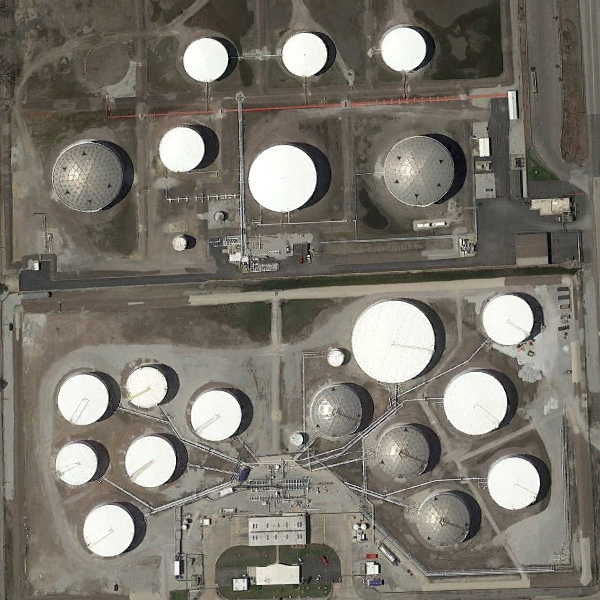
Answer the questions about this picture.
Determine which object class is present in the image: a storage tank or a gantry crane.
storage tank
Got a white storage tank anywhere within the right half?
Yes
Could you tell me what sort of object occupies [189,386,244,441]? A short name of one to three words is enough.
storage tank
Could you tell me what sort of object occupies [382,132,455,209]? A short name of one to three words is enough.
storage tank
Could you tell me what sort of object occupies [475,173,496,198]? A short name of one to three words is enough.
building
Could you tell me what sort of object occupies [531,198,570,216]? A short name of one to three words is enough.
building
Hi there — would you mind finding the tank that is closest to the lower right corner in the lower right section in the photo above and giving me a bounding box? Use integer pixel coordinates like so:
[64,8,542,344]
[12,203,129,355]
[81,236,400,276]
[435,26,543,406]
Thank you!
[486,454,541,512]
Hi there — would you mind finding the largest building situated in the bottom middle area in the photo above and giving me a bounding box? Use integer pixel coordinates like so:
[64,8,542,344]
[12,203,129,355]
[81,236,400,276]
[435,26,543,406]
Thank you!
[249,516,306,546]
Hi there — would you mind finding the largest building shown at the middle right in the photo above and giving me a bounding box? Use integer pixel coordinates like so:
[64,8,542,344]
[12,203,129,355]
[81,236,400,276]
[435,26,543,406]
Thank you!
[516,233,548,265]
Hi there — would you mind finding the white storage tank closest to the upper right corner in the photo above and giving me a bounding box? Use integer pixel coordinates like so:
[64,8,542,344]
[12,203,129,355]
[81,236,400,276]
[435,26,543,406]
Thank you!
[380,24,428,72]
